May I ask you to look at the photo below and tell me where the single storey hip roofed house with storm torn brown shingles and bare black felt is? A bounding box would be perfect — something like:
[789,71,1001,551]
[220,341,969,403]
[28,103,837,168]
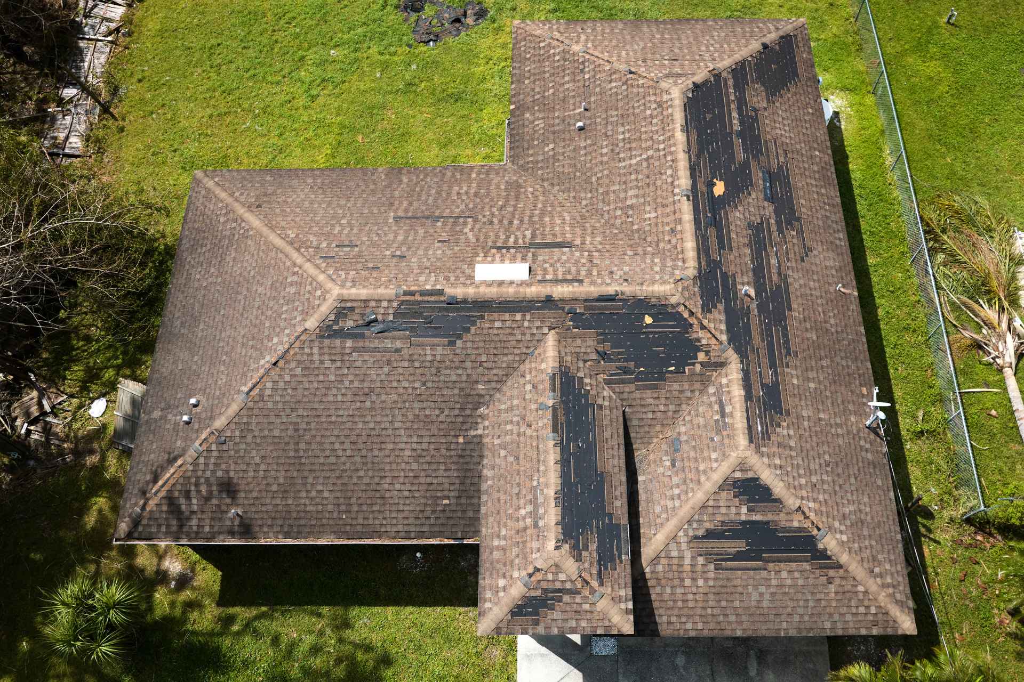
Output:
[114,18,917,638]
